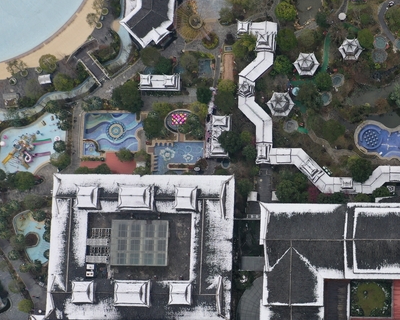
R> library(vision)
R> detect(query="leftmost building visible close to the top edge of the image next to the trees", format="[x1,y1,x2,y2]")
[120,0,180,52]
